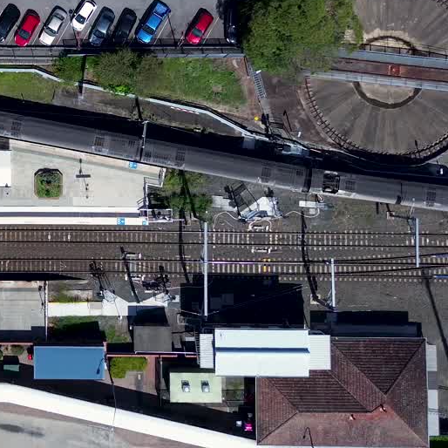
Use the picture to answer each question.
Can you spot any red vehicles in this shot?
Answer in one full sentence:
Yes, you can see a red vehicle in this photo.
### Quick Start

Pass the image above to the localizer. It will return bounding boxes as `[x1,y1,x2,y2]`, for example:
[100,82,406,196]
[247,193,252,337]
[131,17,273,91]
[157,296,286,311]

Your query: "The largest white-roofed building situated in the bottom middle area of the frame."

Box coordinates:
[192,318,330,376]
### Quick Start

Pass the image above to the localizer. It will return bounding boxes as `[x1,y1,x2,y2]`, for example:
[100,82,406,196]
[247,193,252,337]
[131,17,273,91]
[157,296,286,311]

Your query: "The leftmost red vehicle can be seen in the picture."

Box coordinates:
[15,10,39,45]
